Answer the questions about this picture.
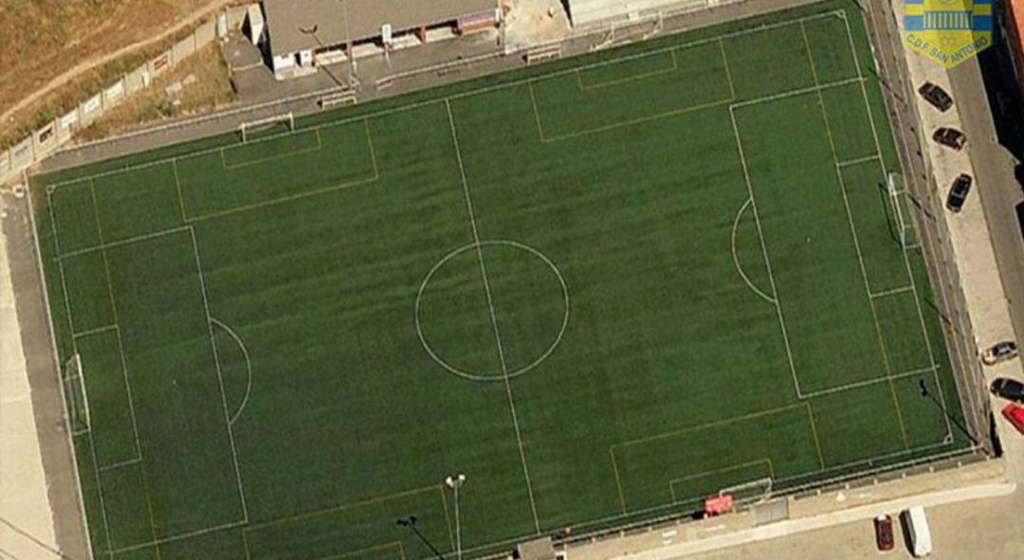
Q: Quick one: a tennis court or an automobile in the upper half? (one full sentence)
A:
Visible in the upper half is an automobile.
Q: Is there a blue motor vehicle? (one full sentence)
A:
No, there is no blue motor vehicle in the image.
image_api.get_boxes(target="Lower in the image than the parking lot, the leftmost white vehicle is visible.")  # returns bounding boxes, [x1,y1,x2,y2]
[907,513,929,560]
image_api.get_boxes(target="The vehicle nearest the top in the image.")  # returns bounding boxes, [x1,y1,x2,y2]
[919,80,954,109]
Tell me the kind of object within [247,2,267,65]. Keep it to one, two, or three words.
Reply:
shed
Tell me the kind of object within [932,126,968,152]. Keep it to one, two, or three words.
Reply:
car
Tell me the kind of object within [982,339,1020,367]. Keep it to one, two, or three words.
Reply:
car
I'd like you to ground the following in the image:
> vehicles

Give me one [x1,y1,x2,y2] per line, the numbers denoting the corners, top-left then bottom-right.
[875,515,893,550]
[982,339,1020,367]
[990,378,1024,406]
[919,80,954,109]
[907,513,929,560]
[1005,408,1024,433]
[932,126,968,152]
[947,175,971,212]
